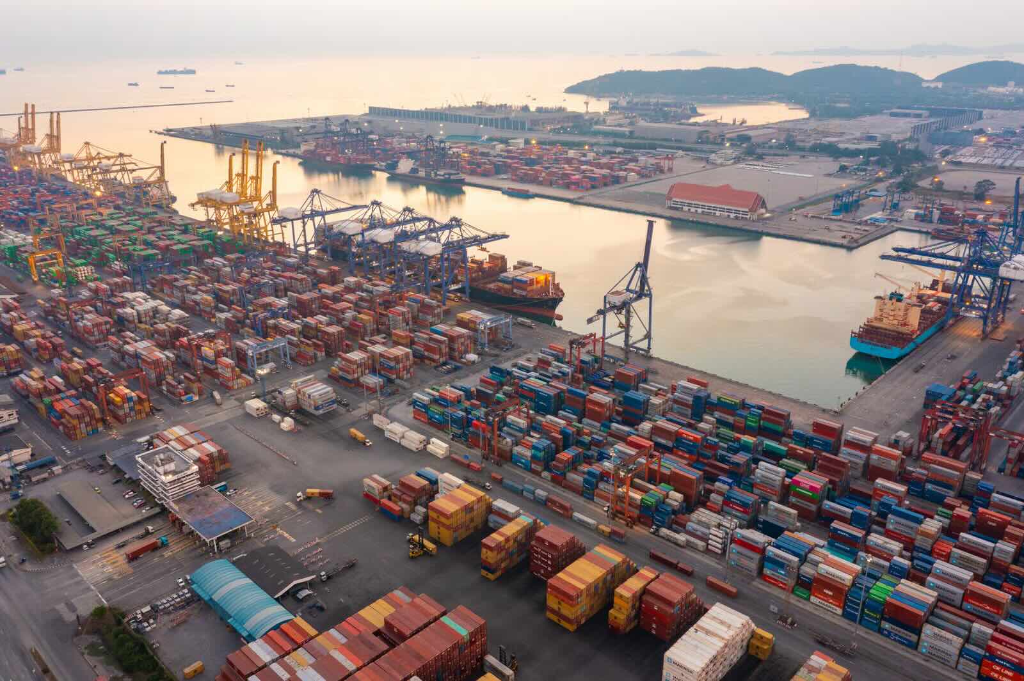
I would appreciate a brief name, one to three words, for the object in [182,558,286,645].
building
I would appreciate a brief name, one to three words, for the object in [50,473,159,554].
shed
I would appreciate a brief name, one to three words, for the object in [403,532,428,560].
work vehicle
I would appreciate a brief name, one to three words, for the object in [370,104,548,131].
building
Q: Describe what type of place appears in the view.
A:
port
